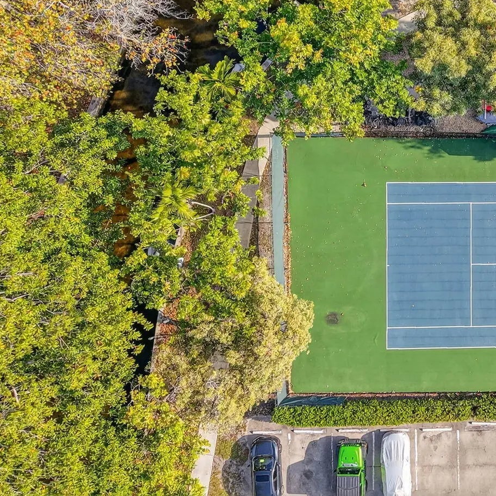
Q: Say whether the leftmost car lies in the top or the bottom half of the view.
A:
bottom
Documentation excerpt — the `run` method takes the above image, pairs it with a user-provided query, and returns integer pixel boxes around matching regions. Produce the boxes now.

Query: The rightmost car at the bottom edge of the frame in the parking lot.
[381,432,411,496]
